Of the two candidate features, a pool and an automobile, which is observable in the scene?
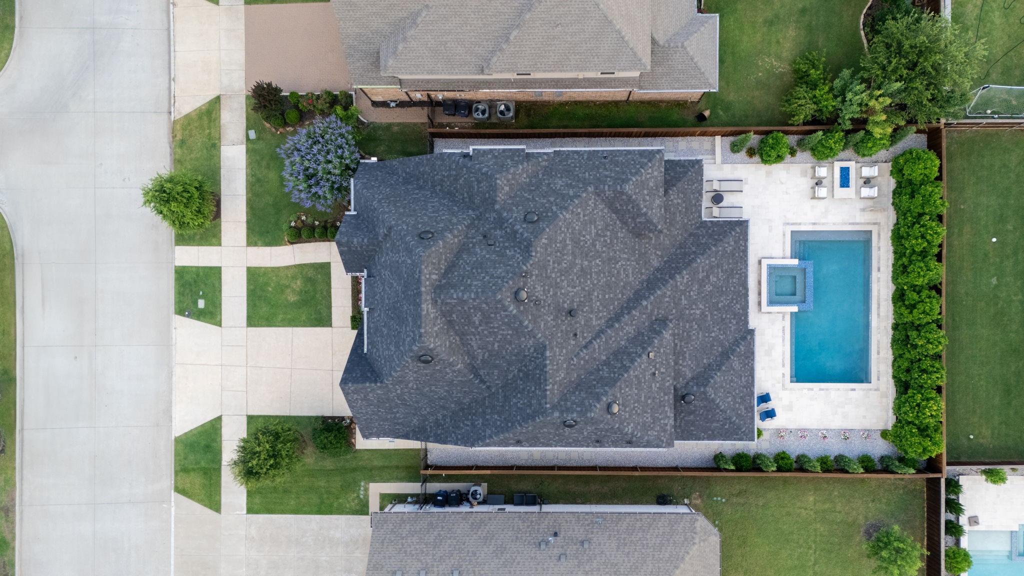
pool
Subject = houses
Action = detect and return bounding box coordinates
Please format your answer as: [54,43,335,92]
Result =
[332,0,721,105]
[366,496,723,576]
[335,146,757,450]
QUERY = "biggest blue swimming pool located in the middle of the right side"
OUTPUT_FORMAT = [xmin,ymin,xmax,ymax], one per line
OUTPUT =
[783,222,880,392]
